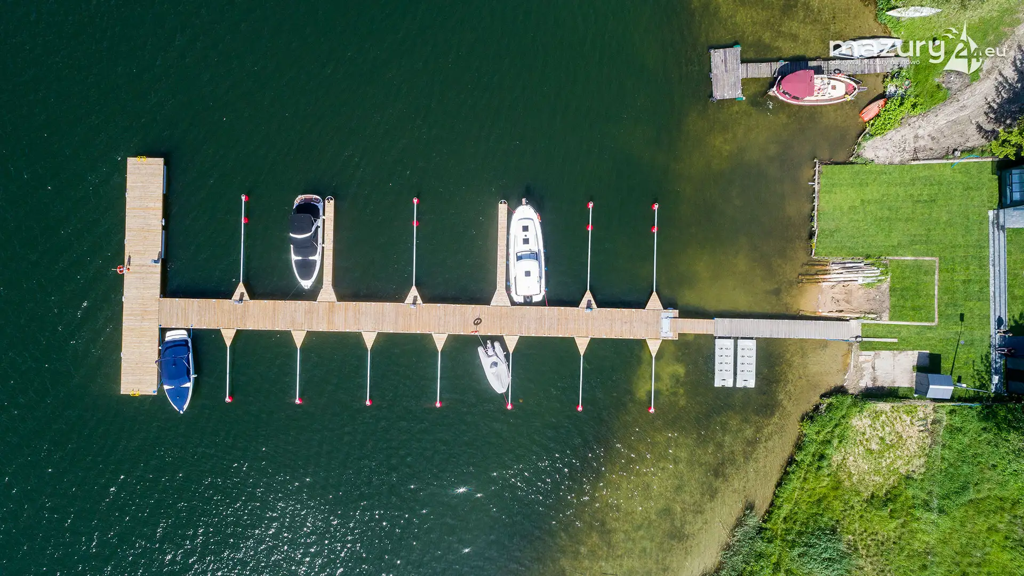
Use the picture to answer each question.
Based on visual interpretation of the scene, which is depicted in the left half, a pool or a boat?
boat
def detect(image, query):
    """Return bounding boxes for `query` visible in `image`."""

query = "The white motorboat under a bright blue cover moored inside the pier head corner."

[152,325,203,415]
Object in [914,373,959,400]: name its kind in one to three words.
shed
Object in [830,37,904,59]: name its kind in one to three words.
boat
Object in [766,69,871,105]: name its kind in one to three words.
boat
